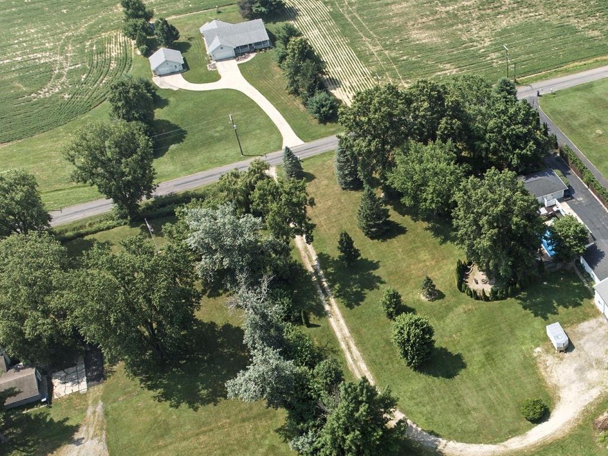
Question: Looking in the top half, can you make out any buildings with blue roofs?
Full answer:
No, the scene shows no building with a blue roof in the top half.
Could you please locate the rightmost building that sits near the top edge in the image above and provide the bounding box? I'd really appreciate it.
[198,7,272,60]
